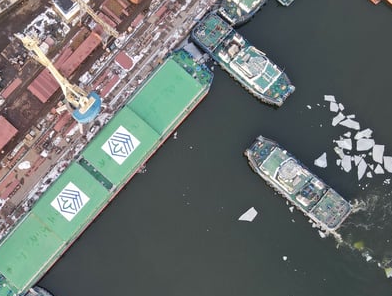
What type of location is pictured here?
port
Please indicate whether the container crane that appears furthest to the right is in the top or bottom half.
top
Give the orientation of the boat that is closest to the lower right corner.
on a diagonal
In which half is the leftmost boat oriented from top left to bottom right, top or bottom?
top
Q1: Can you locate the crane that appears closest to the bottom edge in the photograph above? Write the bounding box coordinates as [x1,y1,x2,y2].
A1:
[16,37,109,134]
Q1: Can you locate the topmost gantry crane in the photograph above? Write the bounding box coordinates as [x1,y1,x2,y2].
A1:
[74,0,128,62]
